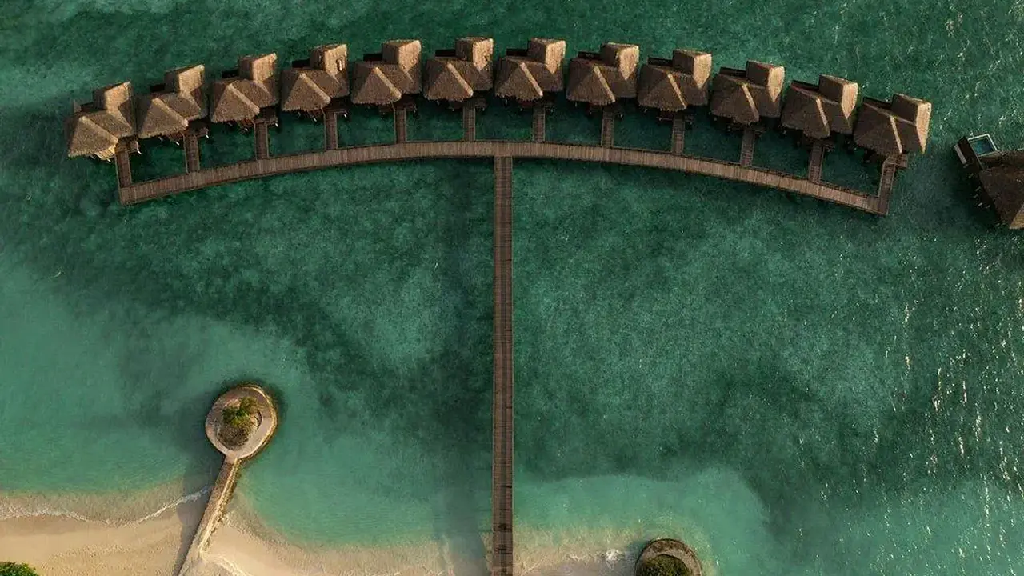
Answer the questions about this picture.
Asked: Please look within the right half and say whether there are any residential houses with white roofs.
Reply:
No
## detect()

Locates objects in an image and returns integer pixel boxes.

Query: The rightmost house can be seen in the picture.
[842,93,933,172]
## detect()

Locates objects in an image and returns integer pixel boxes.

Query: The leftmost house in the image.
[63,82,150,169]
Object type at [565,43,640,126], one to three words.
house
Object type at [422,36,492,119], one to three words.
house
